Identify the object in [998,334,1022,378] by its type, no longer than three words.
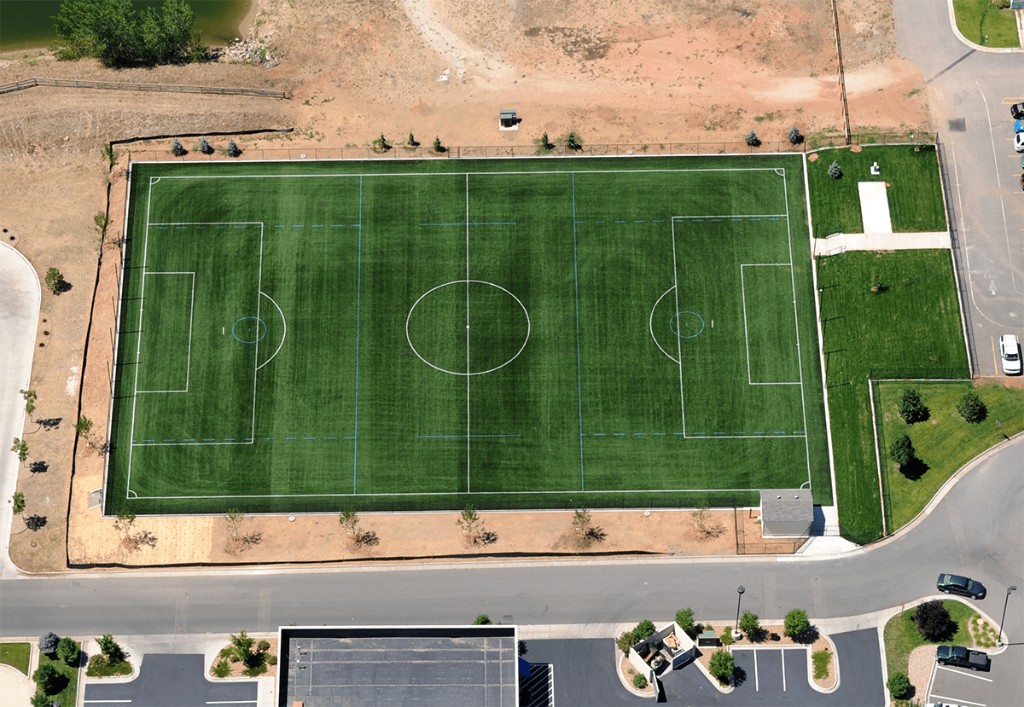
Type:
car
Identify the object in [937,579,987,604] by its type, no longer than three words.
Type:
car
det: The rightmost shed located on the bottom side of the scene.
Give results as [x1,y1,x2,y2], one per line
[760,490,813,536]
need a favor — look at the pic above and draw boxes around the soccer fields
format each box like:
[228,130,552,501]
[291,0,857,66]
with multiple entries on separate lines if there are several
[104,153,834,515]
